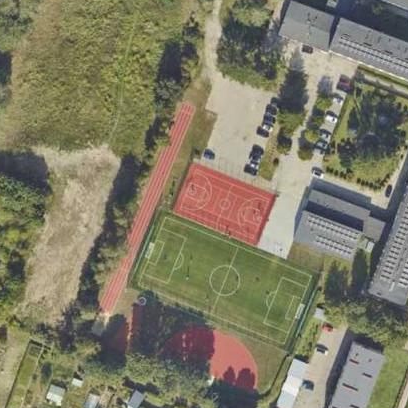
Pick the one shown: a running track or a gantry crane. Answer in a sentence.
Looking from above, you can make out a running track.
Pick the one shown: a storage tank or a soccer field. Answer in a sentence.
The image shows a soccer field.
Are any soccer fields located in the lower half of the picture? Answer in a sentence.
Yes, a soccer field shows up in the lower half of the picture.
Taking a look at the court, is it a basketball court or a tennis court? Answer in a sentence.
The court is a basketball court.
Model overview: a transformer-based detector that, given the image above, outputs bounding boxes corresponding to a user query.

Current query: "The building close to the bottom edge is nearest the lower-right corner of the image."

[328,341,385,408]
